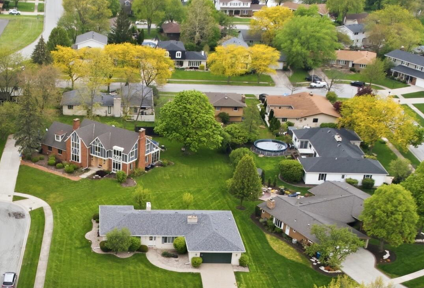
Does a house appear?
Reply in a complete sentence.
Yes, a house can be made out from above.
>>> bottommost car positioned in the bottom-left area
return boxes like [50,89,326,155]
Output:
[1,273,17,288]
